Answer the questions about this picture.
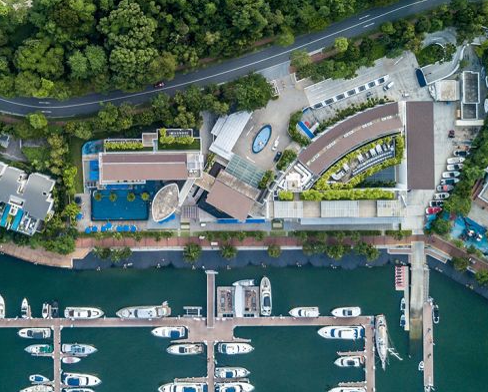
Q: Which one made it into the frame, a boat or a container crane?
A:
boat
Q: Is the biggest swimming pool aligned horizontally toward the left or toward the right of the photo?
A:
left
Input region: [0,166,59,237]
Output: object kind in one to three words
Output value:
house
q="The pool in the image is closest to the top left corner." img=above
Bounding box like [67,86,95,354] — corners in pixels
[82,140,105,154]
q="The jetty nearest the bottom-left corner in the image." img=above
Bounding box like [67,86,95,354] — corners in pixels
[30,327,90,392]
